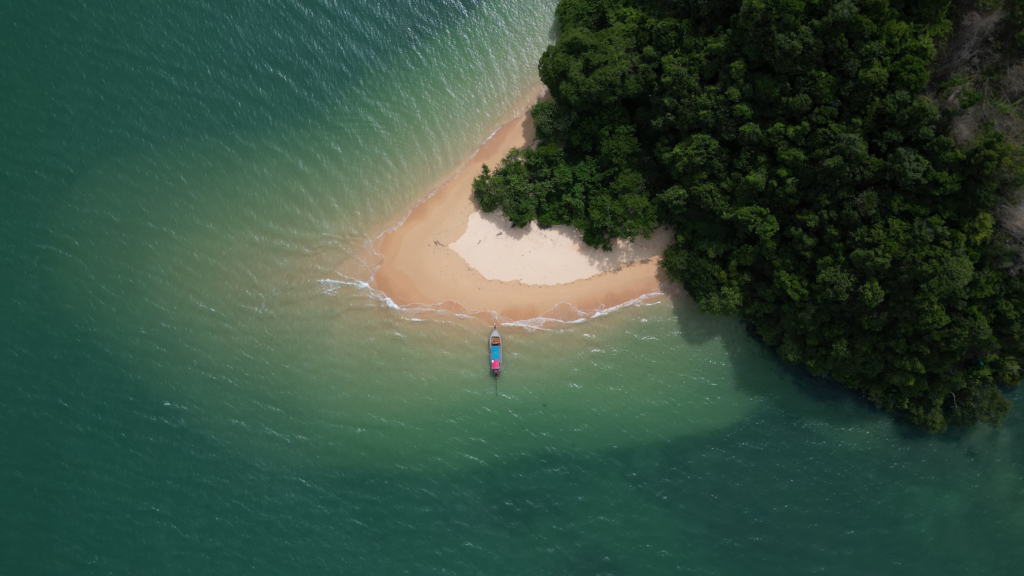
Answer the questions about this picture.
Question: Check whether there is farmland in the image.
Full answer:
No, no farmland is visible.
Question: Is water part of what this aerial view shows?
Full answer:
Yes, water can be seen from above here.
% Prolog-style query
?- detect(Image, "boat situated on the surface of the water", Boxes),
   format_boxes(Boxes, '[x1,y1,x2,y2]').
[489,323,502,388]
